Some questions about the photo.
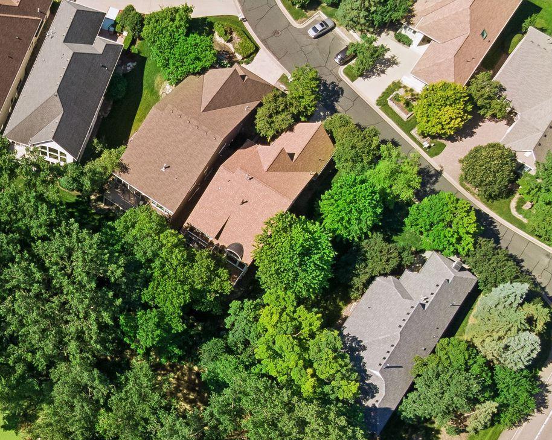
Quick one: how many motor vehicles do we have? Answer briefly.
2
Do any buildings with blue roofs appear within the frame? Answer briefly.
No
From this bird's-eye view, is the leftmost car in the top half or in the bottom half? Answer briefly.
top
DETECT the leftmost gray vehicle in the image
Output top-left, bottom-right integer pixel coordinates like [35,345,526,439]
[306,18,338,39]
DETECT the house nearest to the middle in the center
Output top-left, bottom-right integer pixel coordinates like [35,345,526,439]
[182,121,334,287]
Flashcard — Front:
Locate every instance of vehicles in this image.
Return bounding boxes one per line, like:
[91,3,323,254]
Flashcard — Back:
[306,18,338,39]
[332,42,359,65]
